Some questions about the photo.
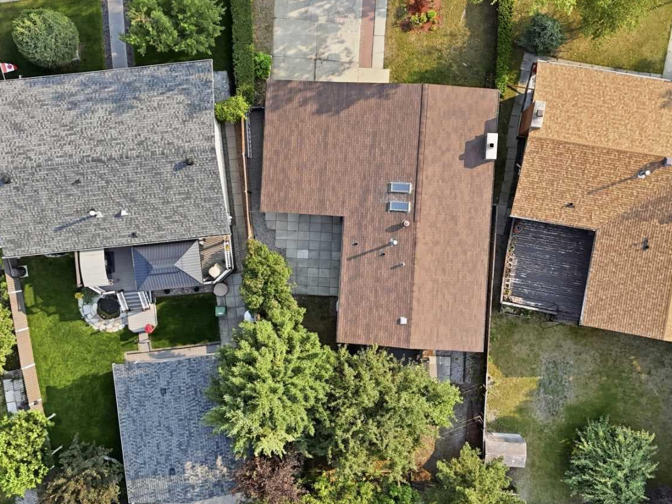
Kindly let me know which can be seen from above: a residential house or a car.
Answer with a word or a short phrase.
residential house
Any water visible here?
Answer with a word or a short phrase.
No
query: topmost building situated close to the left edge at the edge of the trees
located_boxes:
[0,59,233,258]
